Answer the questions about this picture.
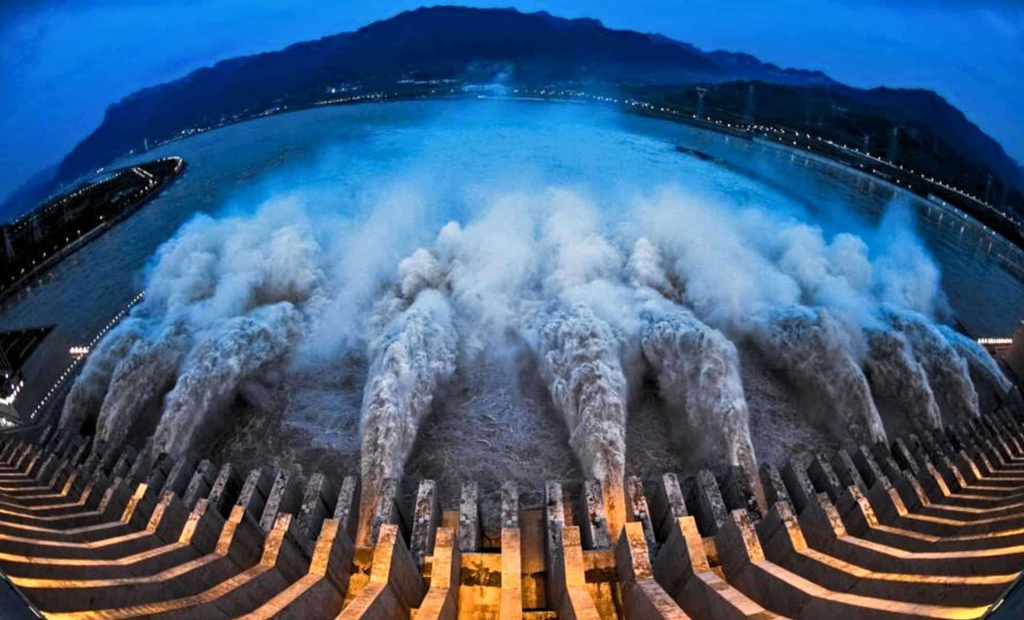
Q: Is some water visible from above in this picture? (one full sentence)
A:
Yes, the picture does contain water.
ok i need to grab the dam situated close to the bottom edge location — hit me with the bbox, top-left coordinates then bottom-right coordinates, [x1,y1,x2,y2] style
[0,402,1024,620]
